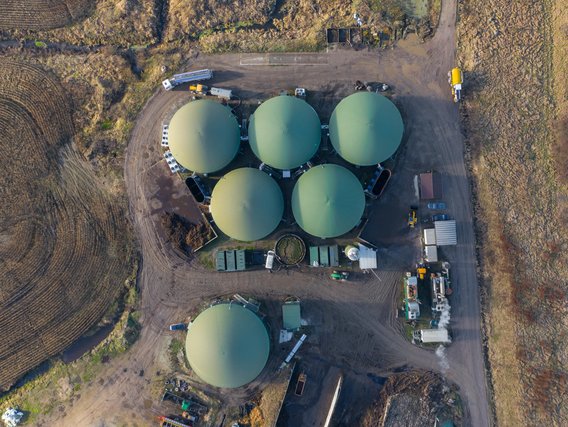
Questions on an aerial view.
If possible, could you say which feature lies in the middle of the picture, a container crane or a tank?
tank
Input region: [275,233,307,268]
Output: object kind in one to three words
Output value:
storage tank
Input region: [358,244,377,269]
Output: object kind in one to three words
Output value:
shed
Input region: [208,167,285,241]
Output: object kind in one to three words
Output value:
storage tank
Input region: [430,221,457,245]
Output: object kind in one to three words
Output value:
shed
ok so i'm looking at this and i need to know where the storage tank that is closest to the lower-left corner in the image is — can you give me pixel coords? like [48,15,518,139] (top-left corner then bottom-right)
[186,300,270,388]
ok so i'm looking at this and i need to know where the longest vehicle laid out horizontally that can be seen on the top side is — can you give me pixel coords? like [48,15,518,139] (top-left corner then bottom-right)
[163,68,216,92]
